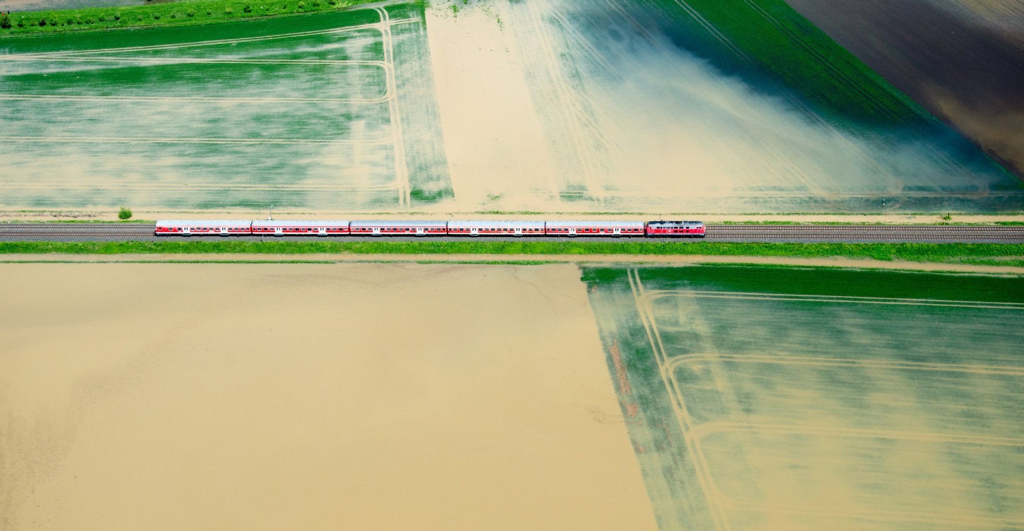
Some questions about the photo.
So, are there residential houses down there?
No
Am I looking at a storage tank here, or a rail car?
rail car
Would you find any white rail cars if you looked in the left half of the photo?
Yes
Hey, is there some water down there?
Yes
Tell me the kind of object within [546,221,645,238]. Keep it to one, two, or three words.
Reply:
rail car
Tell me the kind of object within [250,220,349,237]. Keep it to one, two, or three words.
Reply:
rail car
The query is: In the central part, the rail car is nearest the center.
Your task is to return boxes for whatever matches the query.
[447,221,546,237]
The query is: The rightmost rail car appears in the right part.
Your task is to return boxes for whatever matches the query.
[645,220,706,238]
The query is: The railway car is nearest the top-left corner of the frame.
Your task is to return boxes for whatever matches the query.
[153,220,251,236]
